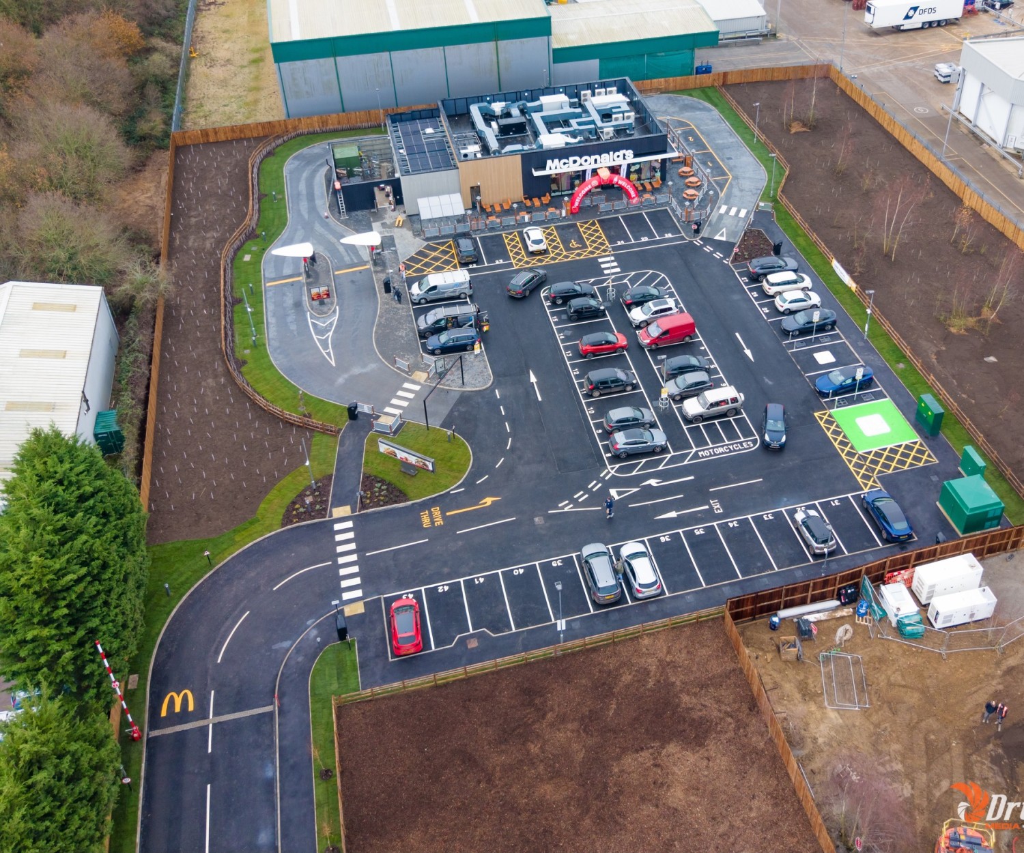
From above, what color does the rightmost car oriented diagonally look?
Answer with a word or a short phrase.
blue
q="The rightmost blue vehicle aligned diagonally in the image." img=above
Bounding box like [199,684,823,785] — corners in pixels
[857,490,922,545]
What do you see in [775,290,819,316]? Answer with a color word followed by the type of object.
white car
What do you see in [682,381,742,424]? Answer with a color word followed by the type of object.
white car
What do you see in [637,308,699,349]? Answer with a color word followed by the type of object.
red van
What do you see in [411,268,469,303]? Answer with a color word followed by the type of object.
white van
